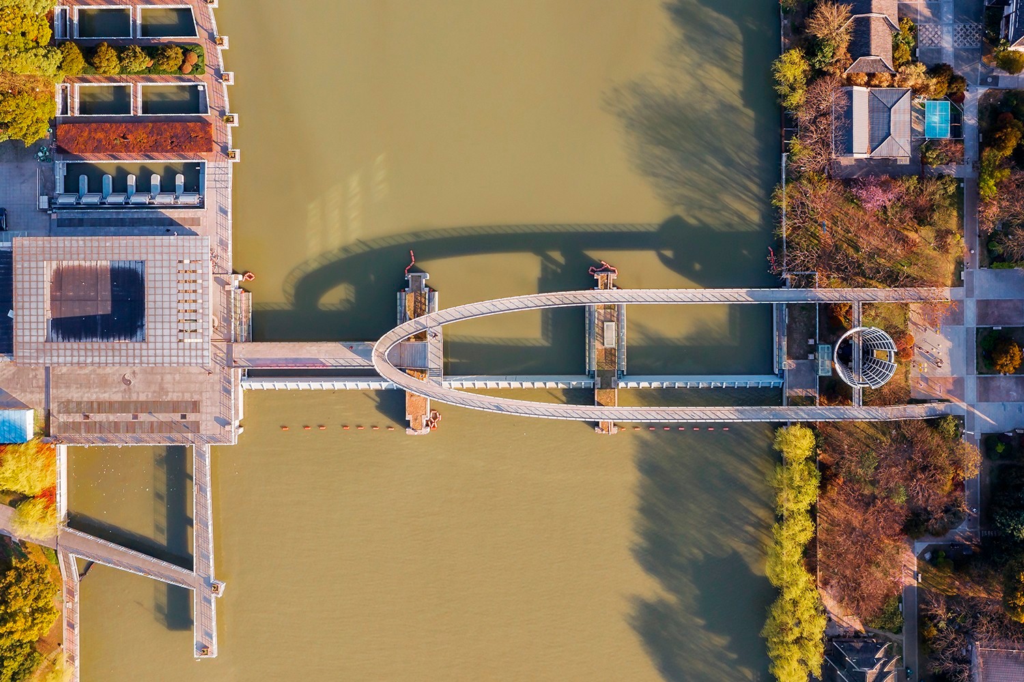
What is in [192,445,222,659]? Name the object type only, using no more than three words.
pier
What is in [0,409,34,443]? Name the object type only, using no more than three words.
shed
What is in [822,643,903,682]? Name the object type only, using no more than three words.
building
